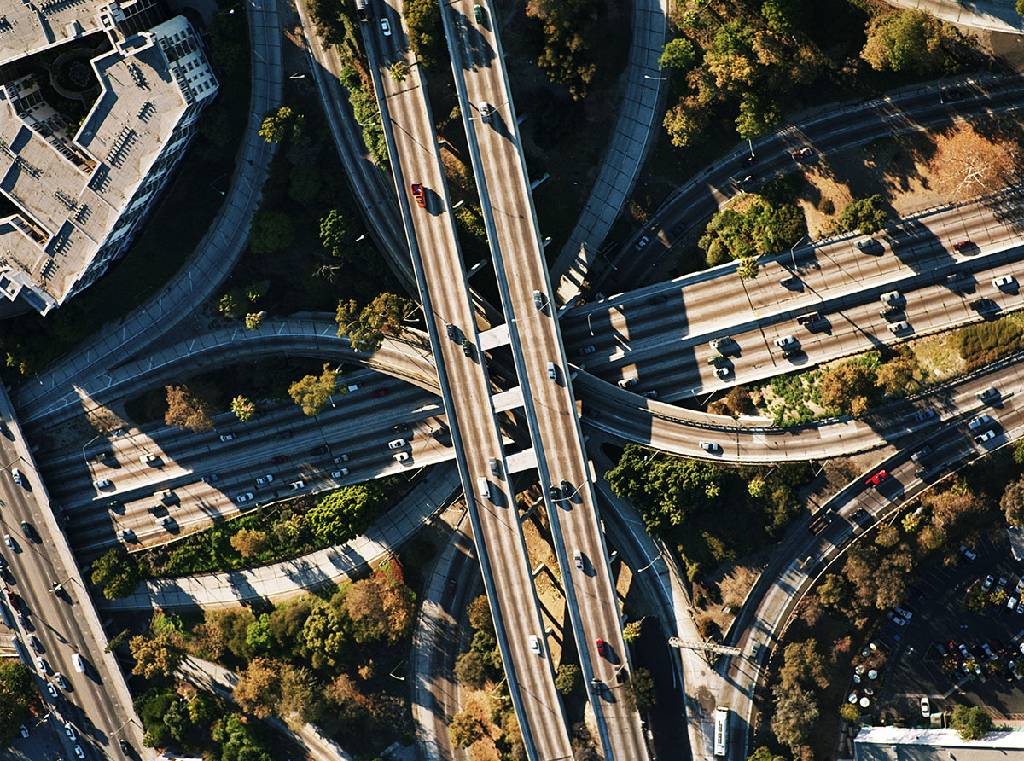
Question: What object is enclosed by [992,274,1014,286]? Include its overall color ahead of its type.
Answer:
white vehicle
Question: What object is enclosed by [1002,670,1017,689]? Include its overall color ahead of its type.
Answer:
black car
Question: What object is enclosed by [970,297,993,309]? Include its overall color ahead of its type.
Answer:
black vehicle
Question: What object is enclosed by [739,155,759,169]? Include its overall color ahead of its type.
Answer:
black car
